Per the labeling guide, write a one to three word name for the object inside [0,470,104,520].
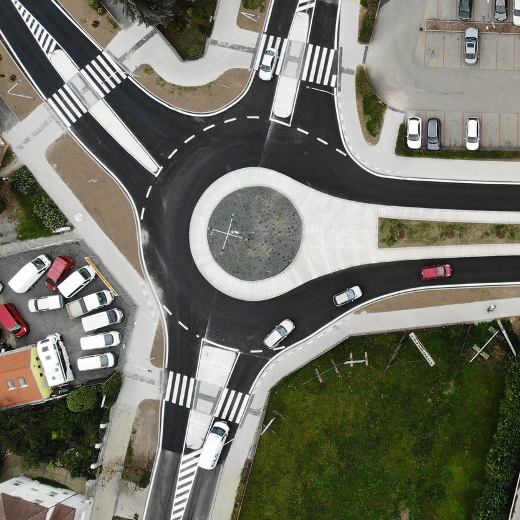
house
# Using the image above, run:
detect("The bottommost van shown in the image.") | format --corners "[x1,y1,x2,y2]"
[196,418,229,472]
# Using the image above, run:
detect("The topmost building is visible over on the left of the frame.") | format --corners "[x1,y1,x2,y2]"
[0,348,49,412]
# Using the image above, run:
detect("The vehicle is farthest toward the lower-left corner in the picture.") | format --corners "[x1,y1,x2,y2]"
[55,383,74,397]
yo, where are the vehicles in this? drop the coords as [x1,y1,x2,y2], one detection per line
[463,28,480,64]
[492,0,509,21]
[405,116,422,148]
[28,294,68,311]
[263,319,296,348]
[421,263,452,279]
[0,300,28,338]
[54,262,99,300]
[332,285,363,307]
[77,308,127,332]
[258,47,279,82]
[63,291,117,319]
[509,0,520,25]
[196,418,229,472]
[425,118,442,151]
[457,0,473,20]
[44,254,75,290]
[2,254,55,296]
[55,383,74,397]
[74,352,118,370]
[76,331,125,351]
[464,117,480,151]
[37,333,74,389]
